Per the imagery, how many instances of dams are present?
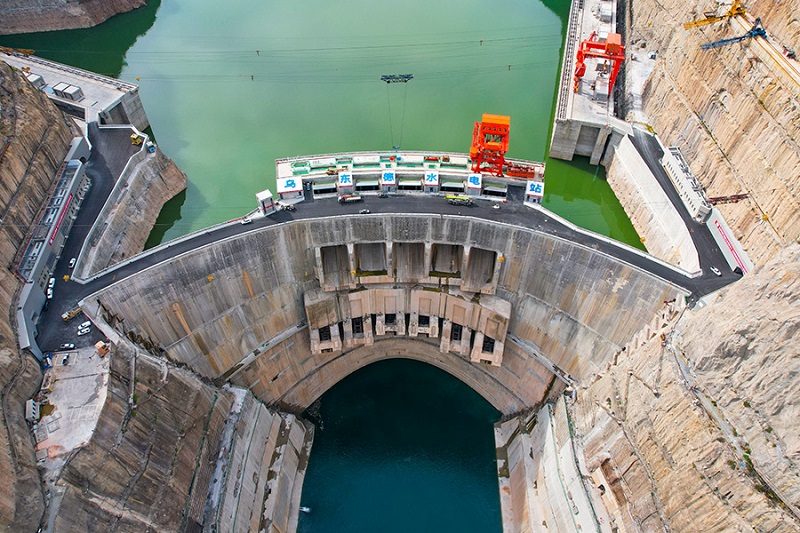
1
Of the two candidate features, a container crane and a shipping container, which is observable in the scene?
container crane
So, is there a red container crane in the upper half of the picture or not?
Yes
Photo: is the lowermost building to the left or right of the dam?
on its left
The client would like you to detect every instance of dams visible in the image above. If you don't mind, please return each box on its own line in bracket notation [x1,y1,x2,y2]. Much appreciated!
[66,149,709,419]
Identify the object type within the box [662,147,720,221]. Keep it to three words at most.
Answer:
building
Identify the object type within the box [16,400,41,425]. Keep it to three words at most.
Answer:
building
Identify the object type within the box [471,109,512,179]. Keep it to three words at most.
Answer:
container crane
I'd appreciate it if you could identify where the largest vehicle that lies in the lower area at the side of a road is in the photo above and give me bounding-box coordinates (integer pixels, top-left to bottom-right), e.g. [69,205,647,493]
[89,338,109,356]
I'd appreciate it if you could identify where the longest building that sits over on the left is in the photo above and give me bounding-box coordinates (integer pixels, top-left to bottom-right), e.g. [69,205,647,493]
[5,163,88,293]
